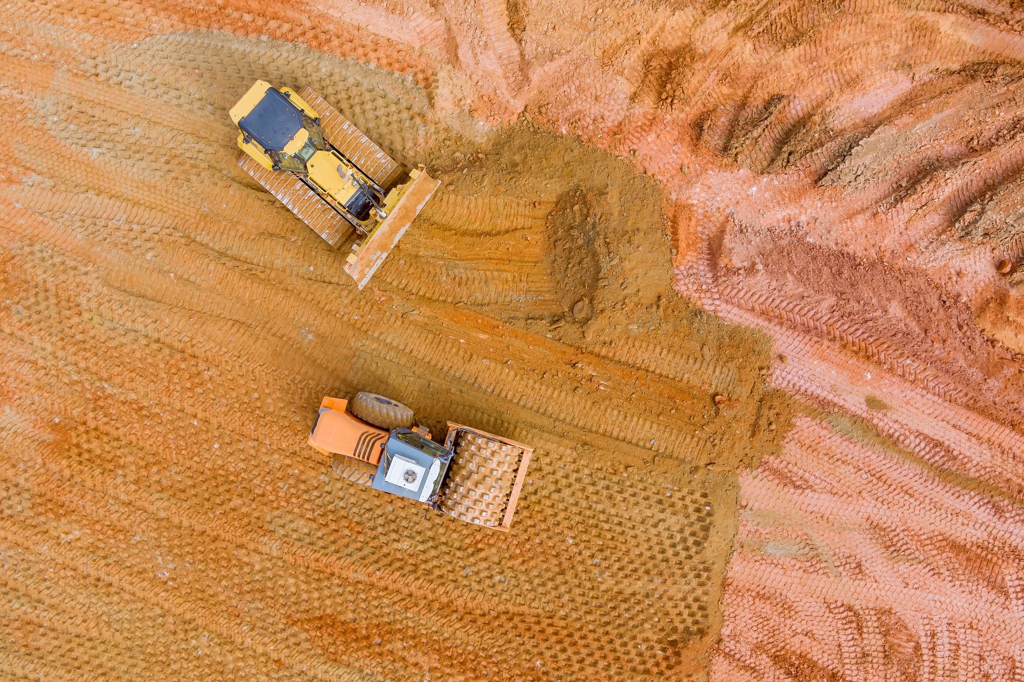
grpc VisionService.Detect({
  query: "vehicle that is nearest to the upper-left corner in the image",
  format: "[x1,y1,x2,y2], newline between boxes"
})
[230,80,440,285]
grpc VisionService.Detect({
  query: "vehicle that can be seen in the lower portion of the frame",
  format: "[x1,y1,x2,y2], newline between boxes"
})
[307,391,535,532]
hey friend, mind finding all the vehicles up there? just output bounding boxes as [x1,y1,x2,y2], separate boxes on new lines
[230,80,440,285]
[307,391,535,532]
